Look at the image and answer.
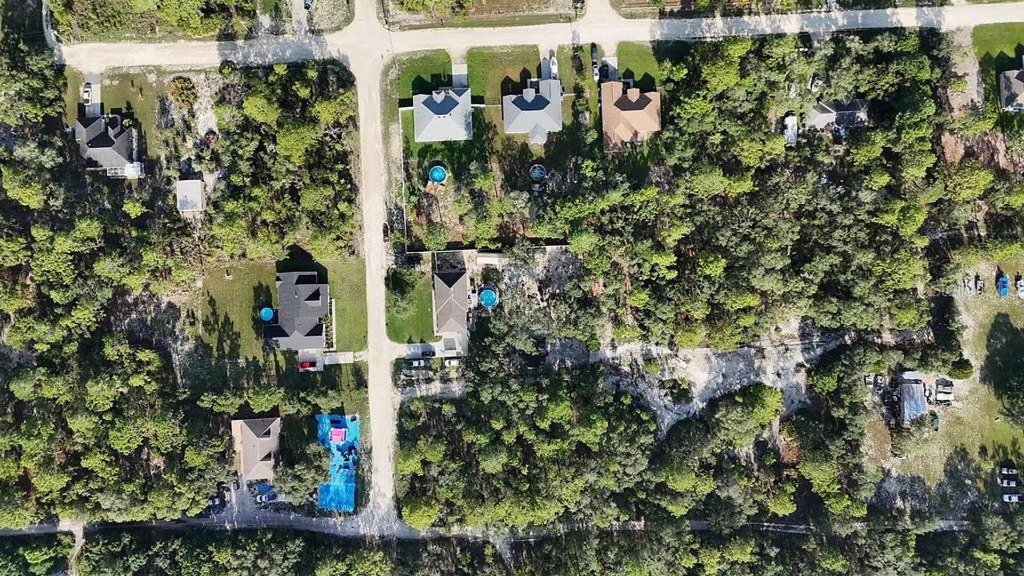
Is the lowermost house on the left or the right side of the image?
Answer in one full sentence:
It is on the left.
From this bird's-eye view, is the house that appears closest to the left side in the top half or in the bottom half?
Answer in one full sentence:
Seen from above, the house that appears closest to the left side lies in the top half of the view.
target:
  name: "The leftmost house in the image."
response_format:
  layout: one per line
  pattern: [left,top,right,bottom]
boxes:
[75,116,137,168]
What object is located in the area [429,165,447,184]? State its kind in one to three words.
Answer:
swimming pool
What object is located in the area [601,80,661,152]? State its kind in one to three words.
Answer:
house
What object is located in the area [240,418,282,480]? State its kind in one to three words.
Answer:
house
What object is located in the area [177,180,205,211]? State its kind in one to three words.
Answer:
shed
